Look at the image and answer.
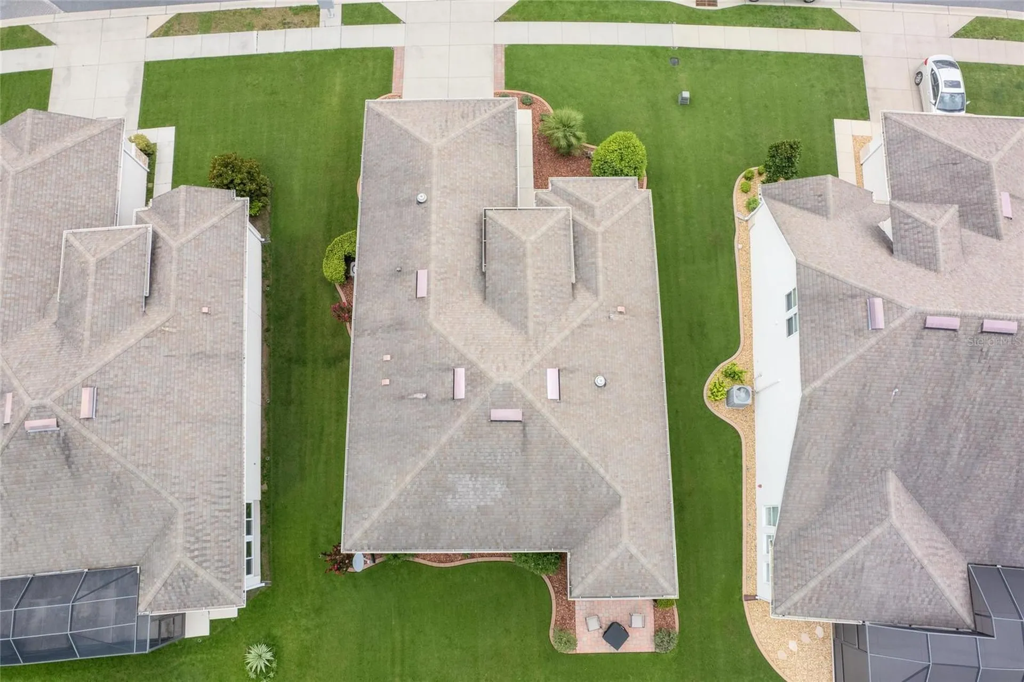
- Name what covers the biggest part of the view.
buildings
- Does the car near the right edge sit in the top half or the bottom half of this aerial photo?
top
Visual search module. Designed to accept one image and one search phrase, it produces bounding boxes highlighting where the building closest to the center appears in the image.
[341,98,678,599]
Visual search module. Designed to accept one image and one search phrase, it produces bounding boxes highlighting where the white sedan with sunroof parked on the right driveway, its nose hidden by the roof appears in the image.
[917,55,974,116]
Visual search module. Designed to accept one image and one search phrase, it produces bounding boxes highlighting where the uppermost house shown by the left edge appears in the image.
[0,110,269,615]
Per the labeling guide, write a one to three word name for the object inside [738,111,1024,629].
house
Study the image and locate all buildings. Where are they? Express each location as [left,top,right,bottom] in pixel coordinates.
[0,110,269,615]
[738,111,1024,629]
[341,98,678,599]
